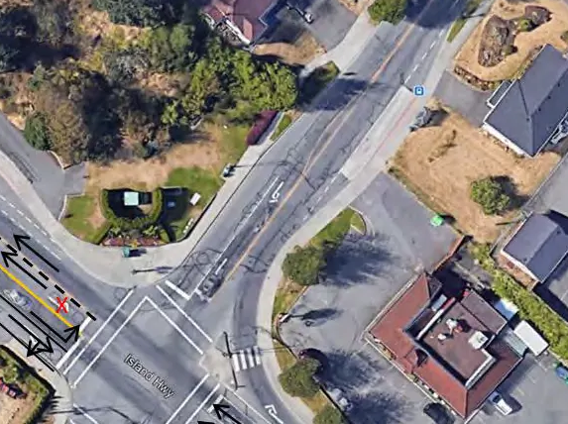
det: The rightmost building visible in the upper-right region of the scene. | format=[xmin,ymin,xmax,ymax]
[476,44,568,160]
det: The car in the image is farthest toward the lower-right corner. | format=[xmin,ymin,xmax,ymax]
[485,390,517,419]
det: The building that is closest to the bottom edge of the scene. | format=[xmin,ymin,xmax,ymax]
[369,273,527,418]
